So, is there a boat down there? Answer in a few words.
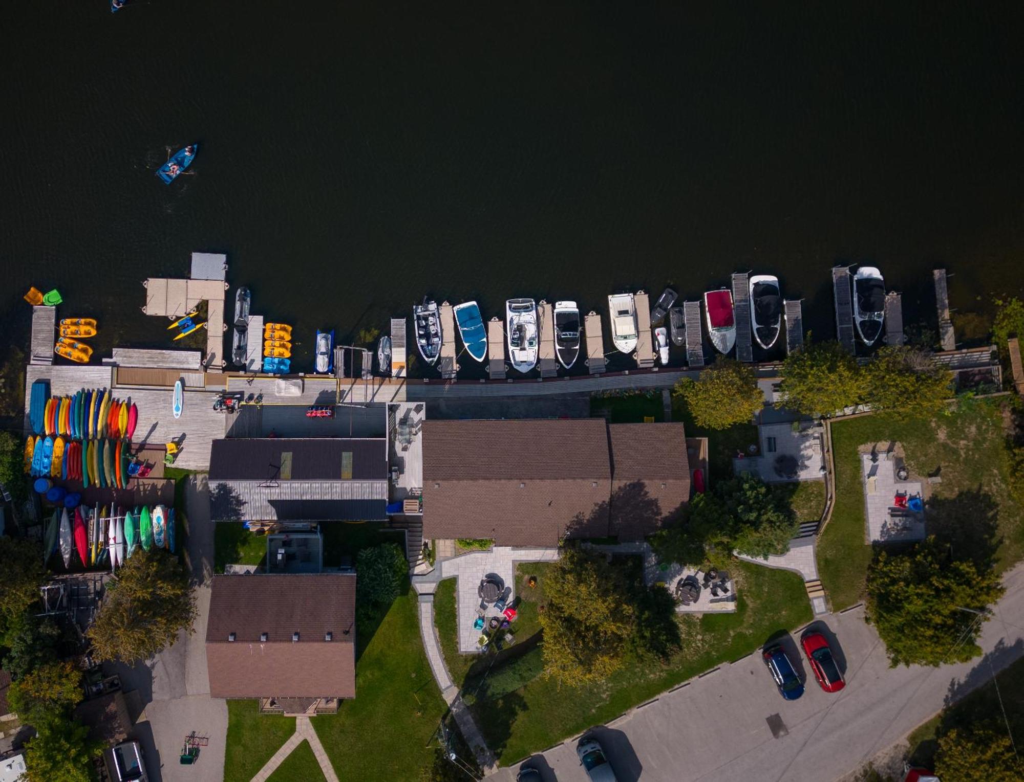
Yes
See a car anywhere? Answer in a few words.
Yes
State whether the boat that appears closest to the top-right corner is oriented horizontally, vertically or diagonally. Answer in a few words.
vertically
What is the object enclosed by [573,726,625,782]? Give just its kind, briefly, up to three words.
van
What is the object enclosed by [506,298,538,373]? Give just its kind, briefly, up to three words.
boat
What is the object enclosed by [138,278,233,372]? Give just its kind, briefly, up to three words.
pier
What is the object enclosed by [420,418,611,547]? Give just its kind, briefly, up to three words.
building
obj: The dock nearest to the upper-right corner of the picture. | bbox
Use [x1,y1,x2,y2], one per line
[931,269,953,324]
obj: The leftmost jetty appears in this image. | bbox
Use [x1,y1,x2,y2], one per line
[28,307,58,359]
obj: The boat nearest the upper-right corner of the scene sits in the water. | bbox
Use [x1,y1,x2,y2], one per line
[853,267,884,347]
